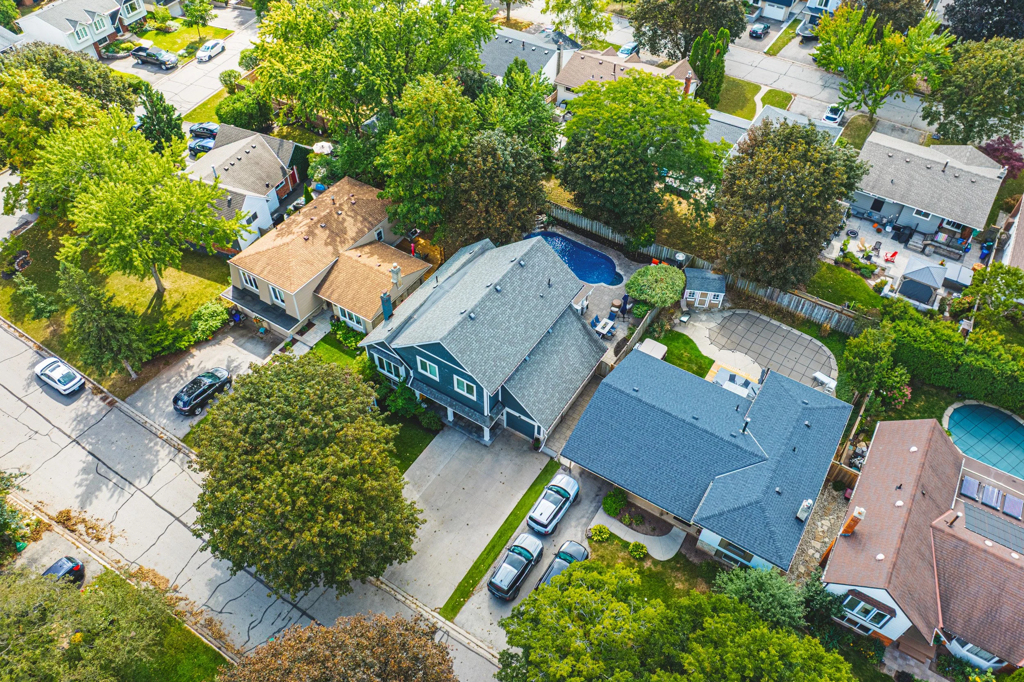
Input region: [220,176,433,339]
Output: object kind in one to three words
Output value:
house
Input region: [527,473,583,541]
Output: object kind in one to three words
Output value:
car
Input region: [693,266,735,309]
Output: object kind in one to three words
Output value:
shed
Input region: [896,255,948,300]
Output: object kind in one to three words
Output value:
gazebo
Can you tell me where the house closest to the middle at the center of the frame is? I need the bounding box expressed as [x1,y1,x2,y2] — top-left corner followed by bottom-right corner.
[358,238,613,462]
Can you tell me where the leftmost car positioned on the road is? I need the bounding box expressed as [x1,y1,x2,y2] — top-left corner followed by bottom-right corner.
[31,361,89,402]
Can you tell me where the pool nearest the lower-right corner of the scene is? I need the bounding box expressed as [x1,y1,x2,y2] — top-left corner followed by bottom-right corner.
[942,399,1024,482]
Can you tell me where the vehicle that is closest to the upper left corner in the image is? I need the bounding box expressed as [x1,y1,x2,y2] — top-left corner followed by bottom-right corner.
[129,45,179,69]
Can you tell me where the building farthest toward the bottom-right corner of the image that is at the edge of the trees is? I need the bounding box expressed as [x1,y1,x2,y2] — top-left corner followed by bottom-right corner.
[806,417,1024,682]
